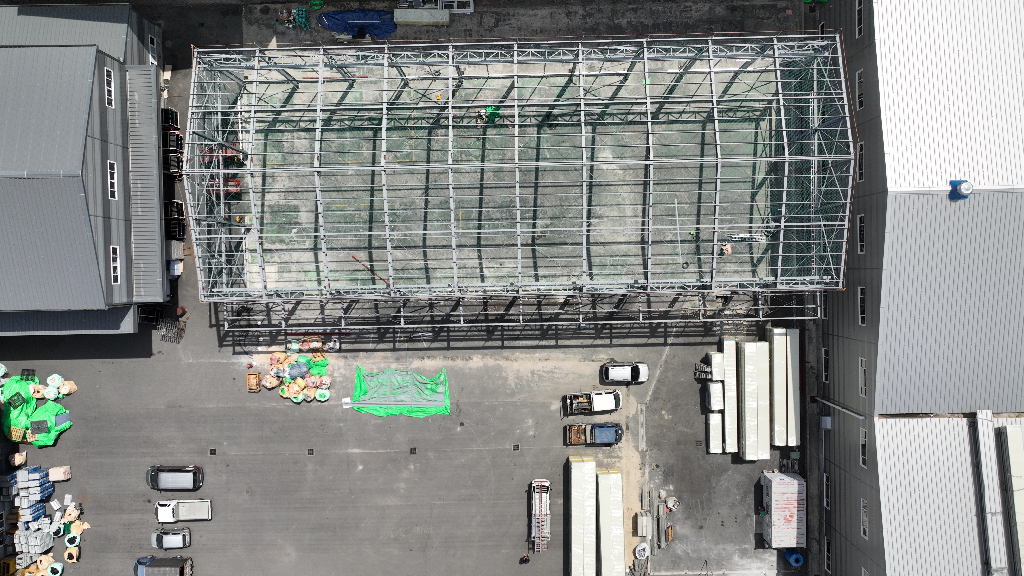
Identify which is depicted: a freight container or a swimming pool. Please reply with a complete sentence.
Looking from above, you can make out a freight container.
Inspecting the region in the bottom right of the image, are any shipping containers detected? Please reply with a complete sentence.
Yes, a shipping container appears in the bottom right of the image.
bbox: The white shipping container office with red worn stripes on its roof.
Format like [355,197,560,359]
[763,471,807,549]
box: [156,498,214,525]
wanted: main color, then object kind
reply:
white truck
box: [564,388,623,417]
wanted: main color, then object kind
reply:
white truck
